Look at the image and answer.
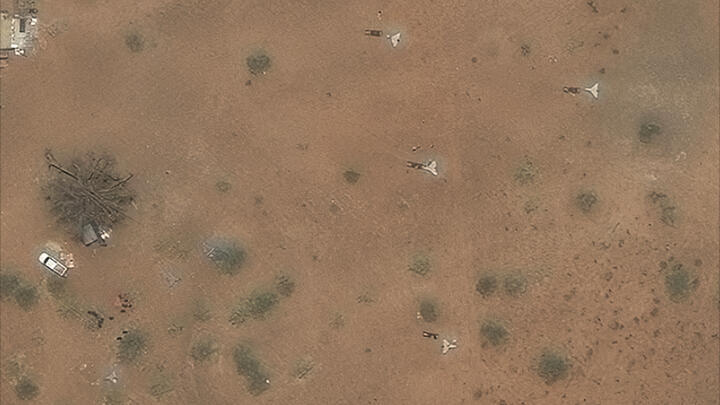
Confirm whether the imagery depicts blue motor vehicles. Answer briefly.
No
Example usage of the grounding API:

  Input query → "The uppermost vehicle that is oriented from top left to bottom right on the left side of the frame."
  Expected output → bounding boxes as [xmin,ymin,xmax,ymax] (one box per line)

[38,252,68,277]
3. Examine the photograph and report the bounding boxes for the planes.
[423,161,437,175]
[105,371,117,380]
[391,32,401,47]
[442,340,456,353]
[585,84,599,98]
